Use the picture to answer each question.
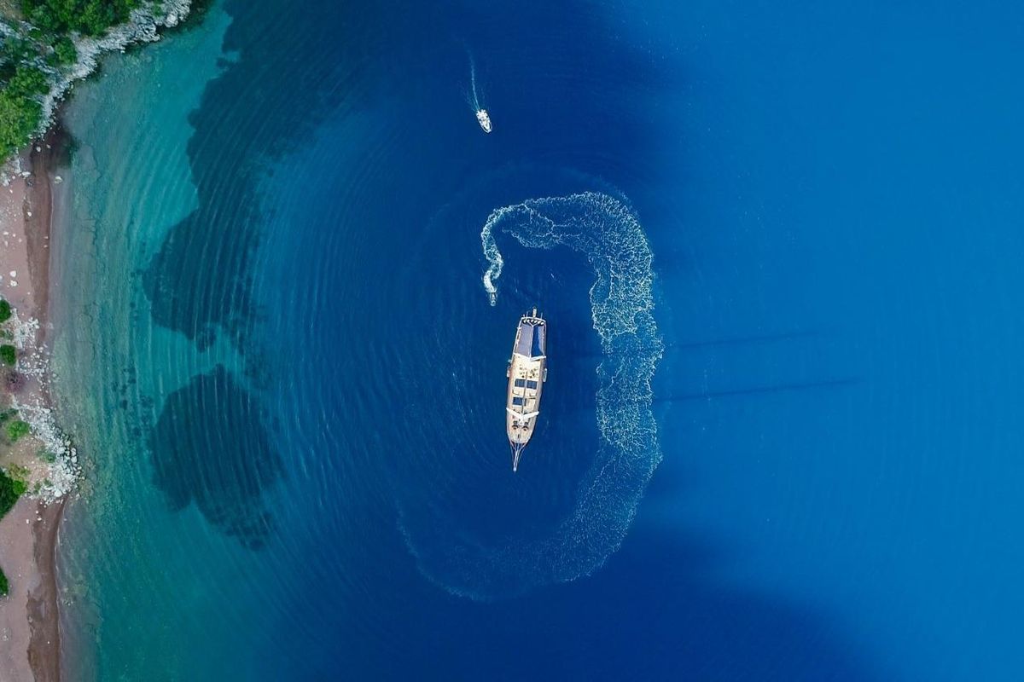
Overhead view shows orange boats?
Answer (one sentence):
No, no orange boat can be seen from above.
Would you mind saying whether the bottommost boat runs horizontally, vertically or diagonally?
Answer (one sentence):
The bottommost boat is oriented vertically.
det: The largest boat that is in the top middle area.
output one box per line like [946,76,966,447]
[476,110,491,133]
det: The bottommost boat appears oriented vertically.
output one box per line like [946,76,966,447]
[506,308,547,471]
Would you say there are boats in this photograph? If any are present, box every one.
[506,308,547,471]
[490,292,496,306]
[476,110,491,133]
